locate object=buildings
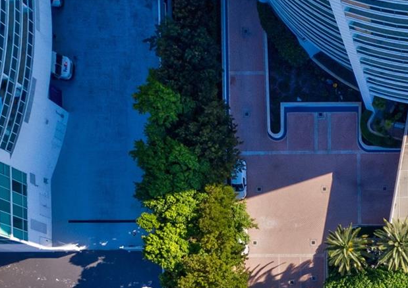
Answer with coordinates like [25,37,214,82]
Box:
[264,0,408,109]
[0,0,67,249]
